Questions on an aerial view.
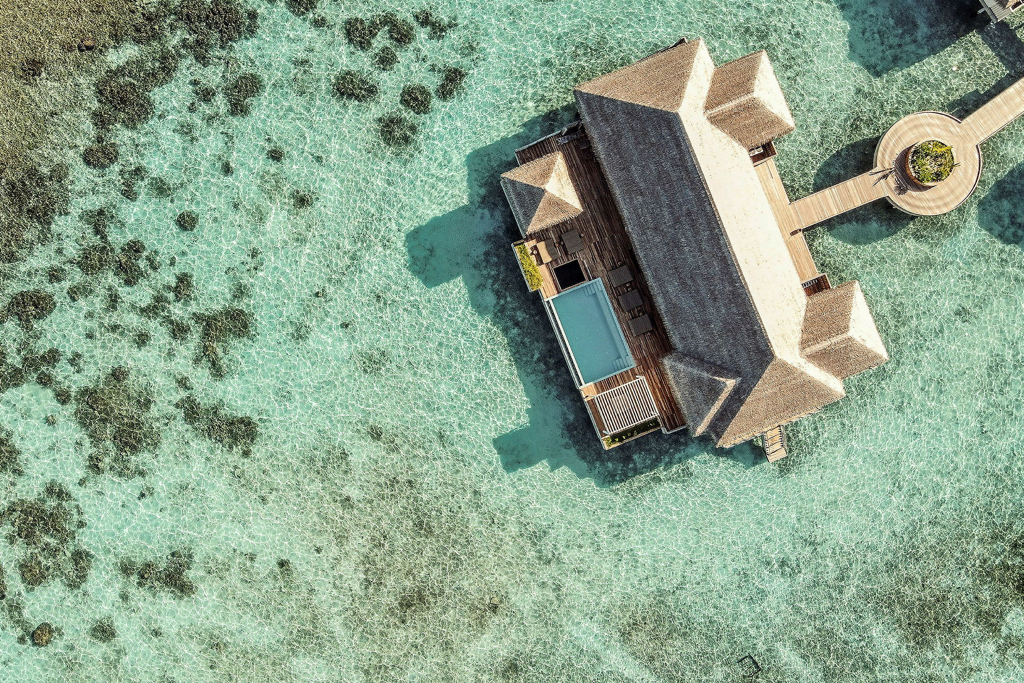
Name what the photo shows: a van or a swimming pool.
swimming pool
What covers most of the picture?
water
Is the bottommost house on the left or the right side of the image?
right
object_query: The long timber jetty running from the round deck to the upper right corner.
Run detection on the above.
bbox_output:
[958,74,1024,147]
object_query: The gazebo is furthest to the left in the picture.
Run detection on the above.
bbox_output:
[501,152,584,236]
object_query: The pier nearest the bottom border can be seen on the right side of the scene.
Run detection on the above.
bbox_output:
[789,166,889,230]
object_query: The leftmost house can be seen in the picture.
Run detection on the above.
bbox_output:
[572,37,888,449]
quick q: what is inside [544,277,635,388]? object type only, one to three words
swimming pool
